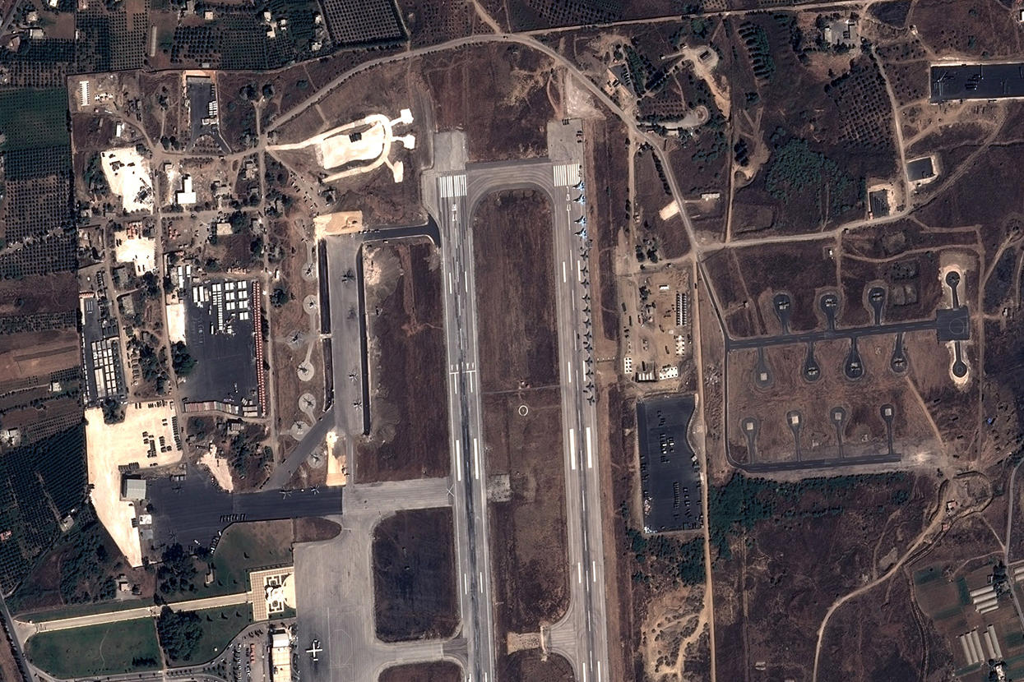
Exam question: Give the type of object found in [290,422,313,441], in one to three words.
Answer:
helipad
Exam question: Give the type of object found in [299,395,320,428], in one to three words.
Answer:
helipad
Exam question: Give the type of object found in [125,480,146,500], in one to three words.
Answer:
hangar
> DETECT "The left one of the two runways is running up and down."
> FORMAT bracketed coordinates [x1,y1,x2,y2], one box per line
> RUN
[438,167,495,682]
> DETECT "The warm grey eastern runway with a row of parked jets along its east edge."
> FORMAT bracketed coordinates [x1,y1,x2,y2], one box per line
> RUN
[553,163,609,682]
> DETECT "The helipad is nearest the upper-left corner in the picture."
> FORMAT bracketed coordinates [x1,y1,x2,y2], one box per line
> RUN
[302,241,317,278]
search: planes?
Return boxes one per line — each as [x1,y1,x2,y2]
[584,396,598,405]
[583,369,597,379]
[578,218,588,227]
[305,643,324,658]
[576,229,588,238]
[574,184,586,193]
[581,319,594,328]
[583,357,596,366]
[581,332,595,341]
[575,196,587,204]
[581,279,592,288]
[583,382,597,391]
[580,306,593,315]
[579,266,592,276]
[579,294,593,303]
[578,251,591,261]
[582,344,595,353]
